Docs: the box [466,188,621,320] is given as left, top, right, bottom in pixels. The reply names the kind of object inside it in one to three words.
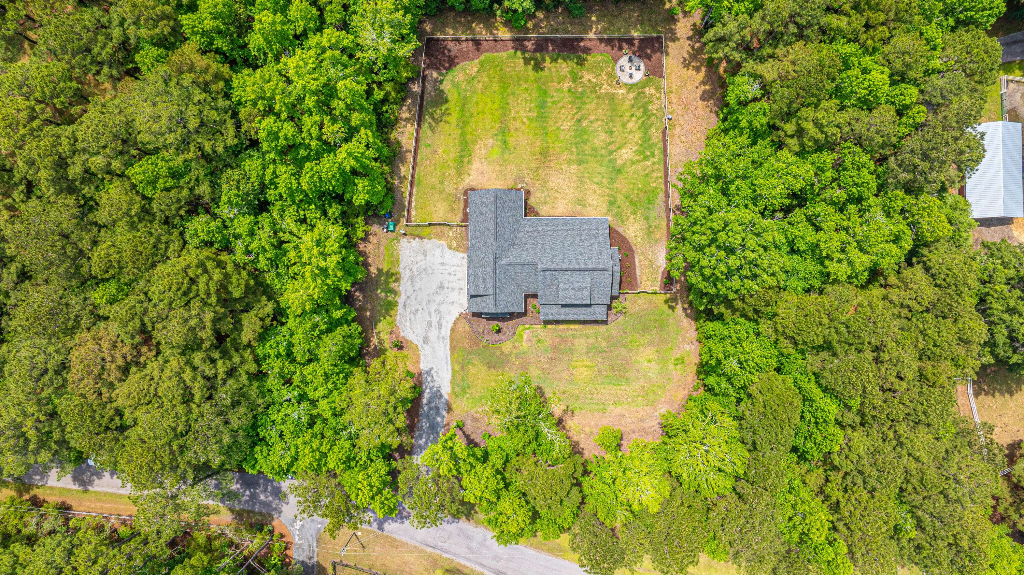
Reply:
house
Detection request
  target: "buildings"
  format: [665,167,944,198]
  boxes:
[466,188,621,320]
[954,120,1022,219]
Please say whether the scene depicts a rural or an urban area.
rural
